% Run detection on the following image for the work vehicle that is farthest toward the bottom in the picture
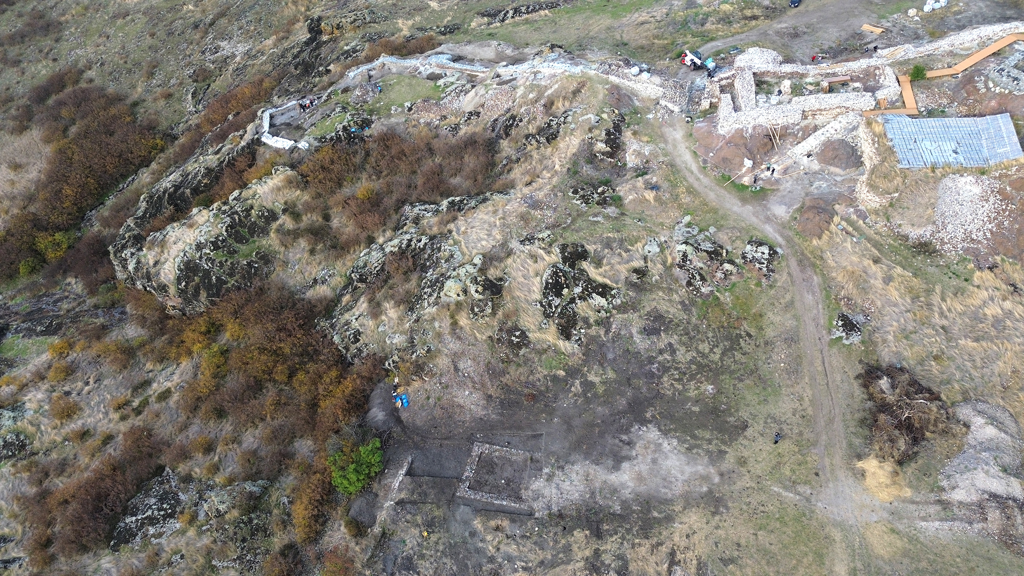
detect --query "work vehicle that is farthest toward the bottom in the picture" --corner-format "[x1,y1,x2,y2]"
[677,48,717,77]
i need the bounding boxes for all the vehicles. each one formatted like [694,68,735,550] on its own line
[677,48,717,77]
[791,0,803,8]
